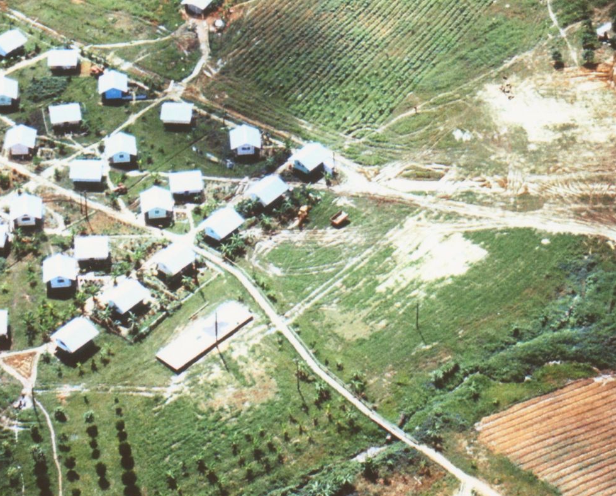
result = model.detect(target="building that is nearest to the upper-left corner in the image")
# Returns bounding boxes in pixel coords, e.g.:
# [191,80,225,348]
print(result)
[0,31,28,66]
